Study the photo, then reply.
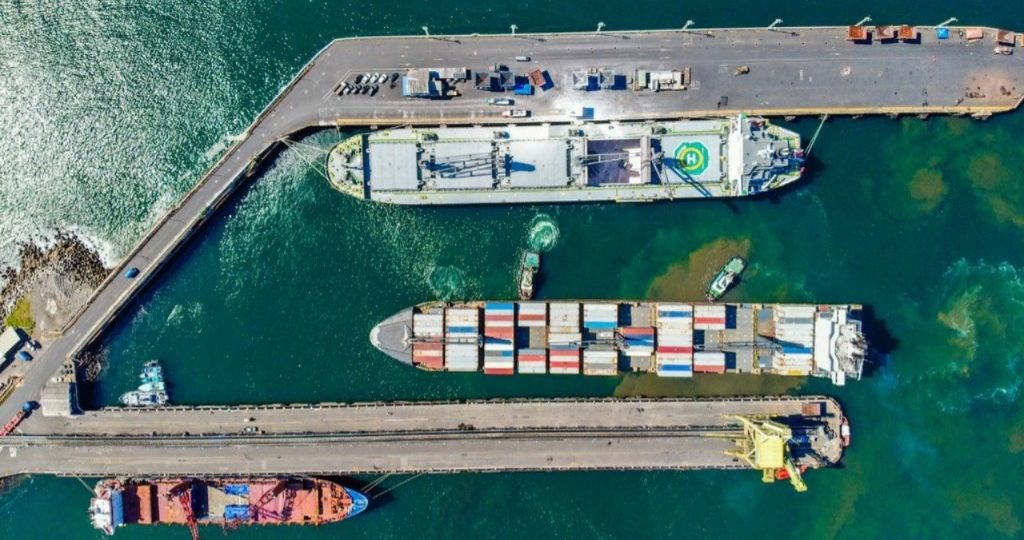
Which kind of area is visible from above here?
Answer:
port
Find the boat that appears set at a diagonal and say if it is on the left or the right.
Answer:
right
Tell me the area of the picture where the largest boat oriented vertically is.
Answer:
center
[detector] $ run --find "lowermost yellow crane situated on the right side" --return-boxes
[701,411,809,491]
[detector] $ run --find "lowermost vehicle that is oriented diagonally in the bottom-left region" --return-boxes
[0,402,33,435]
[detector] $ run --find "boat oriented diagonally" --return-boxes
[704,252,750,302]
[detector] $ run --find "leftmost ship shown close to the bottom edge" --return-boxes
[87,475,369,540]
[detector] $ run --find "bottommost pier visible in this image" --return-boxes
[0,393,846,478]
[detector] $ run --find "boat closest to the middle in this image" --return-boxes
[518,249,541,299]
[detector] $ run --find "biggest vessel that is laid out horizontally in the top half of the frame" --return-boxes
[328,113,805,206]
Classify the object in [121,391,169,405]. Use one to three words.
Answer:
boat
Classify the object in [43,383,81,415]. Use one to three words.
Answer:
house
